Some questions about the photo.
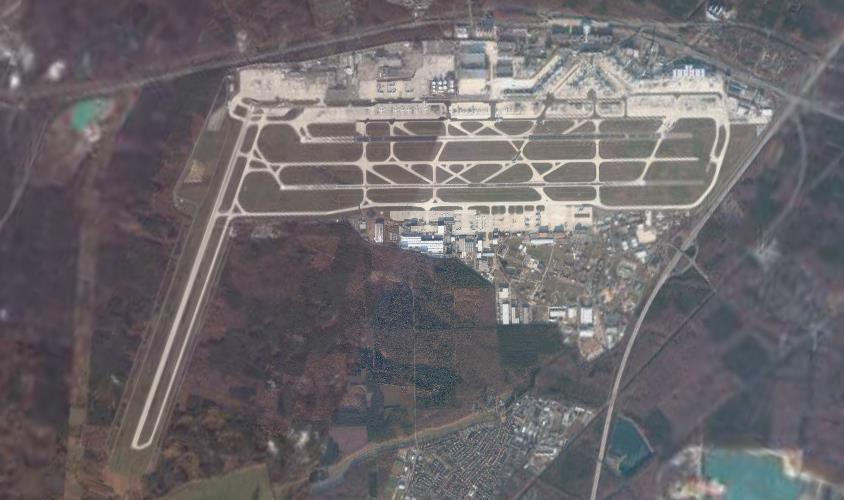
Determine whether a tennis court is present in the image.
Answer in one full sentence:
No, no tennis court is visible in the view.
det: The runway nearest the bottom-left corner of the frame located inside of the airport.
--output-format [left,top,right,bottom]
[132,110,253,447]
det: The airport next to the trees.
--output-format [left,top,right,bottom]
[109,42,769,472]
